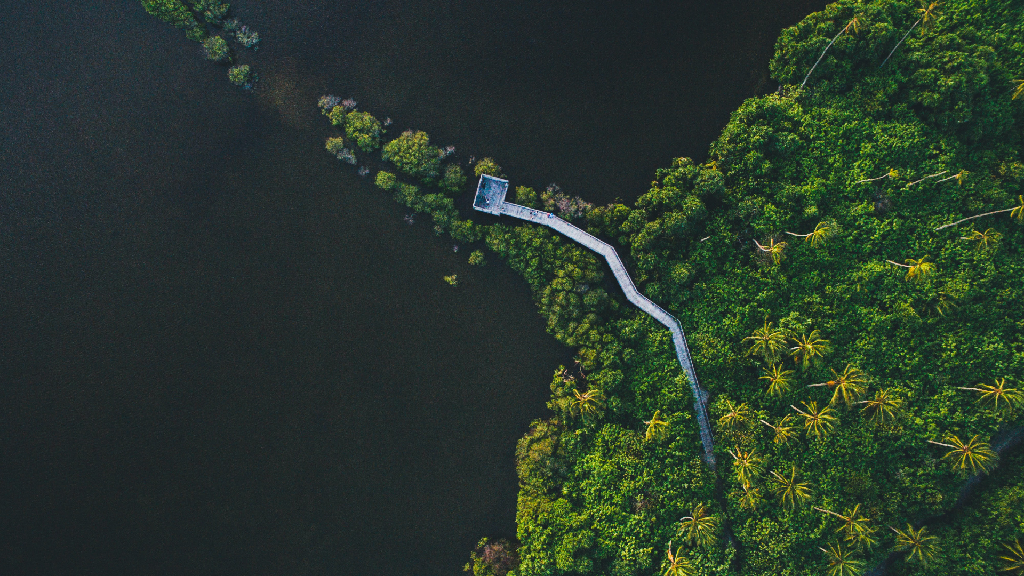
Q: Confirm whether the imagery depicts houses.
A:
No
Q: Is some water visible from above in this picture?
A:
Yes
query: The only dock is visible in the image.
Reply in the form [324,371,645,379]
[473,174,719,460]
